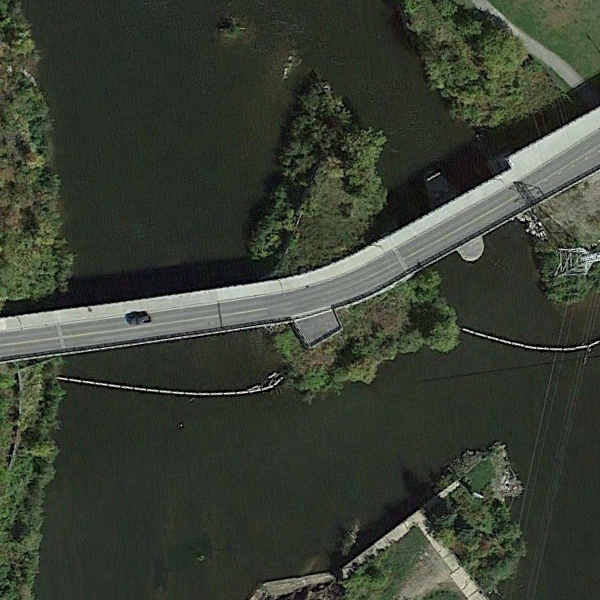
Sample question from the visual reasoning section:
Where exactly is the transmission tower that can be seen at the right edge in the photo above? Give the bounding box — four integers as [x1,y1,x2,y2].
[554,246,600,275]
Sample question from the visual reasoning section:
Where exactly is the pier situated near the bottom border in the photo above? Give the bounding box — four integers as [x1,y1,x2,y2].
[250,571,335,600]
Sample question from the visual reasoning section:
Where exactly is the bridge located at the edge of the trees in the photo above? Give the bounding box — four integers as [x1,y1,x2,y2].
[0,107,600,363]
